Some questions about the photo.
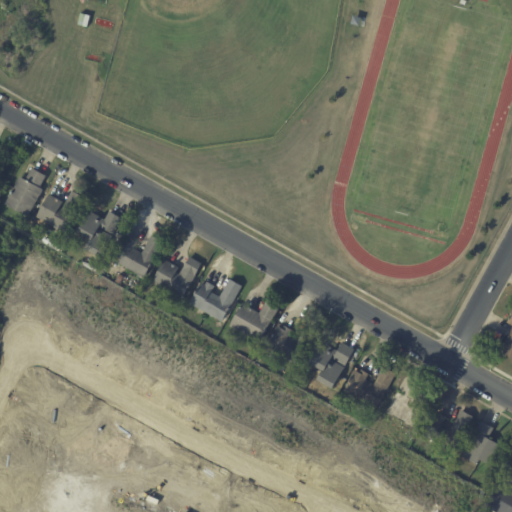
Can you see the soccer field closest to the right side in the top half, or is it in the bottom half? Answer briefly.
top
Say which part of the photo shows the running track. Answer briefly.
top right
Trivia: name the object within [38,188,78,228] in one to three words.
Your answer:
house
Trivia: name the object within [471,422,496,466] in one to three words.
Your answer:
house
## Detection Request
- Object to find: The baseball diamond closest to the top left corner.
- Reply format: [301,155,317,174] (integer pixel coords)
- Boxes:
[101,0,338,146]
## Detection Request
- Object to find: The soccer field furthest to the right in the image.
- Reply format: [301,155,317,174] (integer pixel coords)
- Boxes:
[356,0,507,226]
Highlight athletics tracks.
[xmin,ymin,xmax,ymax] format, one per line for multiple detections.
[332,0,512,278]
